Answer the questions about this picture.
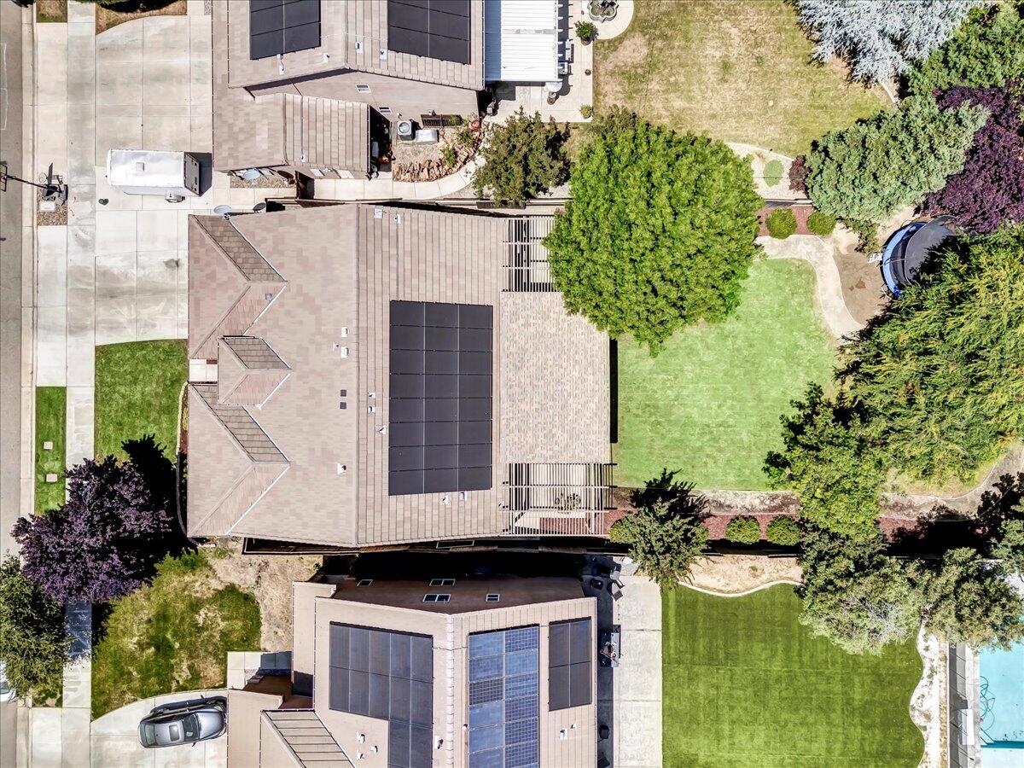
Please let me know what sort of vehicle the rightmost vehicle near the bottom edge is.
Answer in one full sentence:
I'd say the rightmost vehicle near the bottom edge is an automobile.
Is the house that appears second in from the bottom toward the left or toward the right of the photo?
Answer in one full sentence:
The house that appears second in from the bottom appears in the left half of the scene.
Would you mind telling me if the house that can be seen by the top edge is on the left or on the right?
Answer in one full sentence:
The house that can be seen by the top edge appears in the left half of the scene.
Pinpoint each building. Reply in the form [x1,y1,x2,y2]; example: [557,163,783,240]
[226,576,598,768]
[212,0,487,176]
[186,202,505,548]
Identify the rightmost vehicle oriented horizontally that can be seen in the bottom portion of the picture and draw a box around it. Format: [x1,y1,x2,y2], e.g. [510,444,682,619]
[139,697,226,745]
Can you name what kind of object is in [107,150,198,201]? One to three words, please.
trailer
